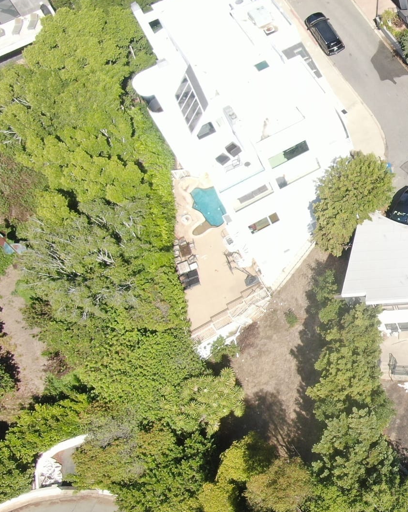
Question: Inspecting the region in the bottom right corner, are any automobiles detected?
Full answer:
No, no automobile is visible in the bottom right corner.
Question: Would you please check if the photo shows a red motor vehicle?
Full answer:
No, the frame has no red motor vehicle in it.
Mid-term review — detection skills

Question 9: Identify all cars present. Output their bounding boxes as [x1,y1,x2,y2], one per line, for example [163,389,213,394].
[306,14,342,53]
[383,180,408,225]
